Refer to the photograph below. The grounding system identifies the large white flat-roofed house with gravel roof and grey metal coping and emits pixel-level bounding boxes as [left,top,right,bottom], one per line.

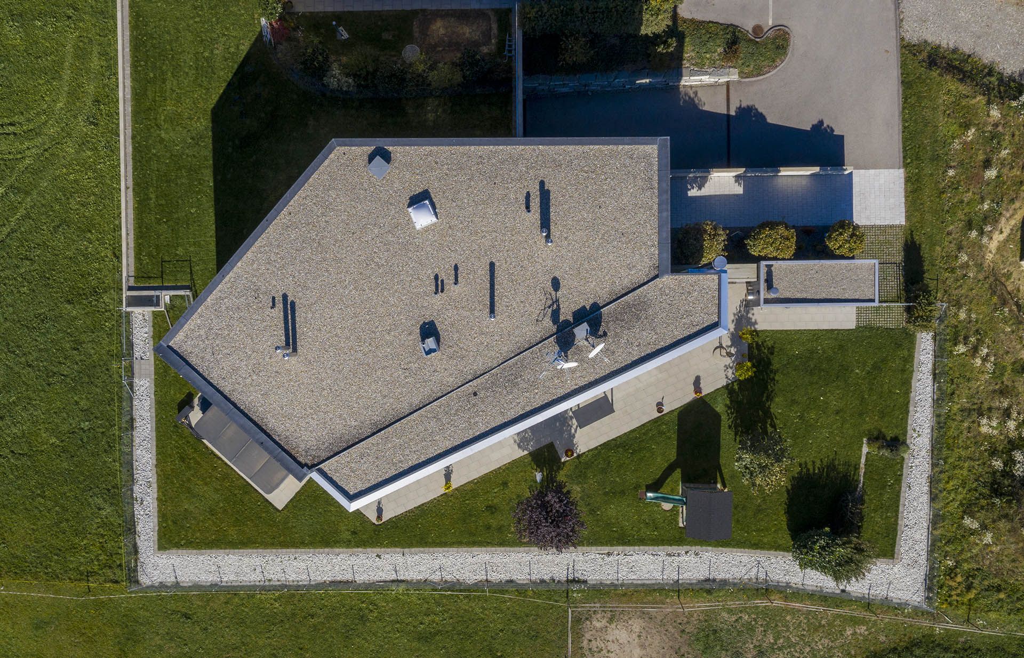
[155,137,727,511]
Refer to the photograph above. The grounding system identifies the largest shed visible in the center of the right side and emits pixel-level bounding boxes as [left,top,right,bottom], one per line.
[744,260,878,307]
